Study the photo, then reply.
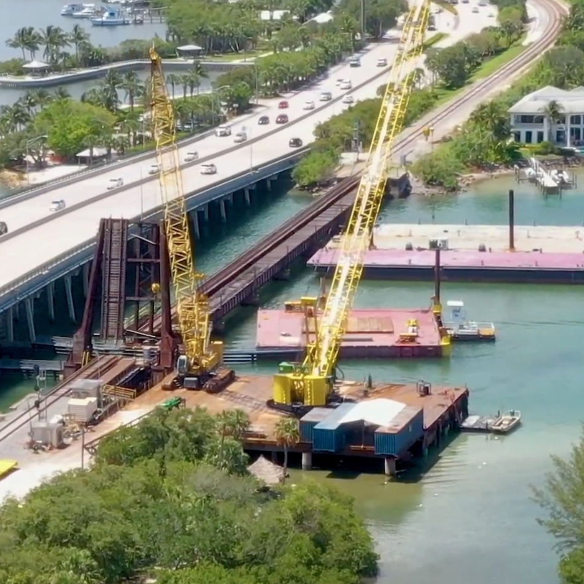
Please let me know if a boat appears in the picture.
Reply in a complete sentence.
Yes, there's a boat down there.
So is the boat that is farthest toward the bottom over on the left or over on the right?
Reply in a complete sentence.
The boat that is farthest toward the bottom sits on the right side.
